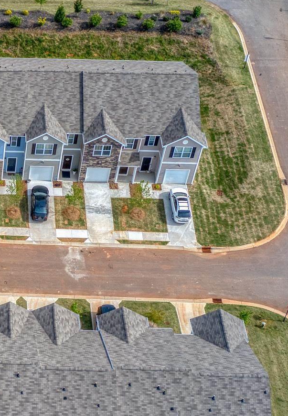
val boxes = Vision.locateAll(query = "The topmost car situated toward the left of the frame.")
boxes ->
[31,184,51,221]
